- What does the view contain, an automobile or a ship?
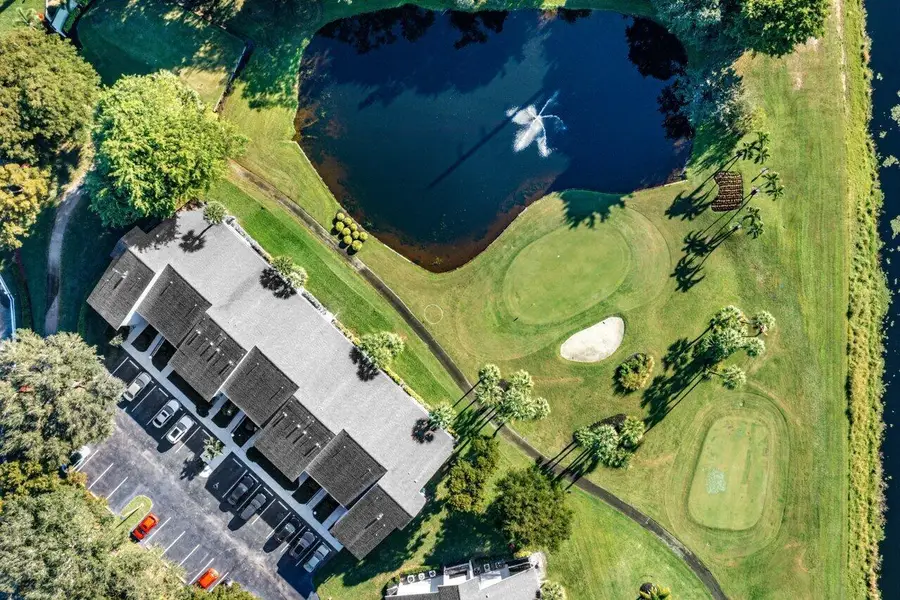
automobile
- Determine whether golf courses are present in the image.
Yes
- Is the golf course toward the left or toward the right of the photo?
right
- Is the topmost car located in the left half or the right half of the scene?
left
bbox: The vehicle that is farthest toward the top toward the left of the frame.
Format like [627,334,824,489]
[120,371,154,403]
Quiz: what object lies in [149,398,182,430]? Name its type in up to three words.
car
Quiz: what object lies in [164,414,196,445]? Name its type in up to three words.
car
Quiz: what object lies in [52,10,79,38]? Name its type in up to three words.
shed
